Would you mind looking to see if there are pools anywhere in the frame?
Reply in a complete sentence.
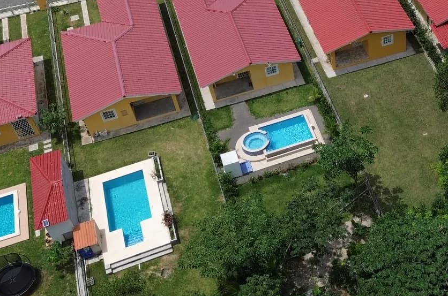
Yes, there's a pool here.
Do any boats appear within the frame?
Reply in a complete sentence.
No, I find no boat anywhere in the image.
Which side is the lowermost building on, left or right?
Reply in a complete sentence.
The lowermost building appears in the left half of the scene.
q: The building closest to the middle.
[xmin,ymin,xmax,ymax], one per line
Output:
[220,150,242,175]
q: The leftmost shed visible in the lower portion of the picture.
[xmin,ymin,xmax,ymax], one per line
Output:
[30,150,76,242]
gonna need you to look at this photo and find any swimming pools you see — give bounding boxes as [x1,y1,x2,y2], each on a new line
[0,183,29,249]
[88,160,180,278]
[234,110,328,175]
